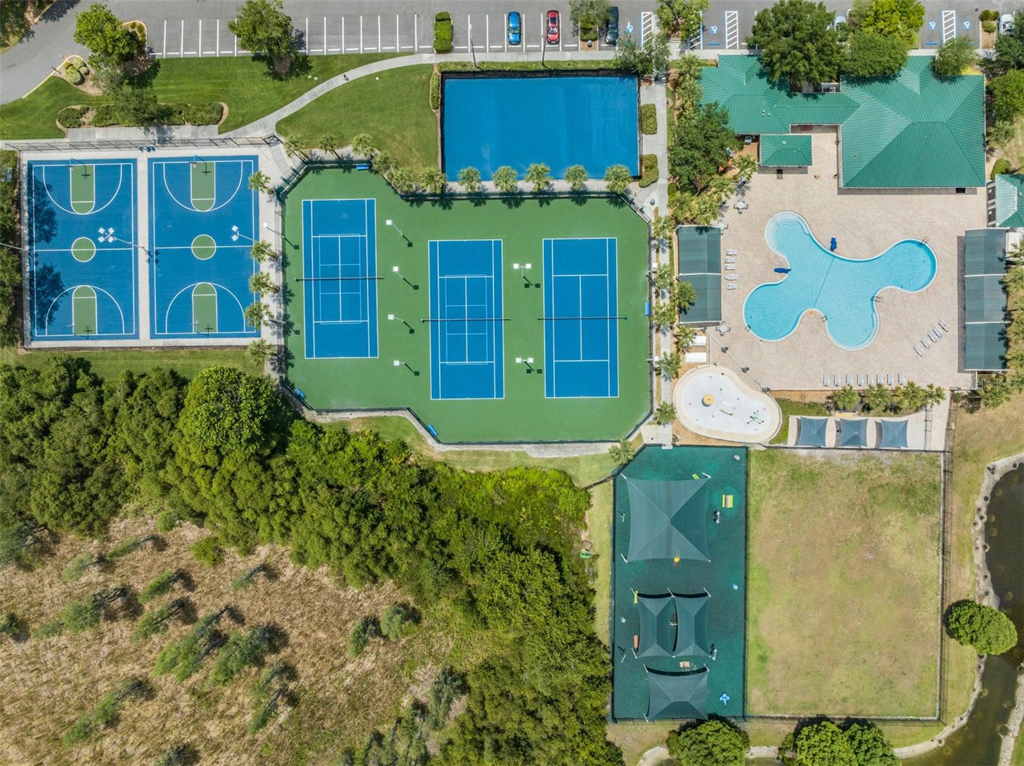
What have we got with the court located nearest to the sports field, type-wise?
tennis court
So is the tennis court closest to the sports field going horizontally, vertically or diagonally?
vertically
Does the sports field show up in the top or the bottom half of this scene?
bottom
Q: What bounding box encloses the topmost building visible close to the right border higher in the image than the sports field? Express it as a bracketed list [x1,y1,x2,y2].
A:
[700,54,986,190]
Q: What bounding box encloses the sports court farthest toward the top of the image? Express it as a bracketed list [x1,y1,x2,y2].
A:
[440,65,643,182]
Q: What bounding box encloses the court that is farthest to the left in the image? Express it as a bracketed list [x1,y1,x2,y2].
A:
[27,158,139,341]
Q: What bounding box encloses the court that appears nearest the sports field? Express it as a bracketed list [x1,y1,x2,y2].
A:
[543,238,619,398]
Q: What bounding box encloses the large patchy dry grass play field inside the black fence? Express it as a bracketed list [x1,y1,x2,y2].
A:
[750,450,943,717]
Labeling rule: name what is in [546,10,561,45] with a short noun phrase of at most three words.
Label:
car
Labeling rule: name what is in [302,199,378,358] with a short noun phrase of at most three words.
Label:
tennis court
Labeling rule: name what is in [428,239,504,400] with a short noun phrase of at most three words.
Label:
tennis court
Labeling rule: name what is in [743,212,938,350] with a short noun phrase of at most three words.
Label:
swimming pool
